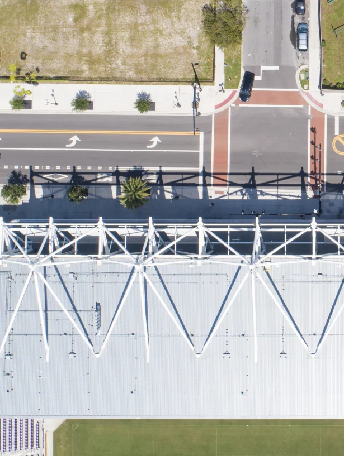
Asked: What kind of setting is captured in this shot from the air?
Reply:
sports ground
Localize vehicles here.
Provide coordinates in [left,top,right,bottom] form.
[296,23,308,51]
[294,0,305,15]
[238,71,254,102]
